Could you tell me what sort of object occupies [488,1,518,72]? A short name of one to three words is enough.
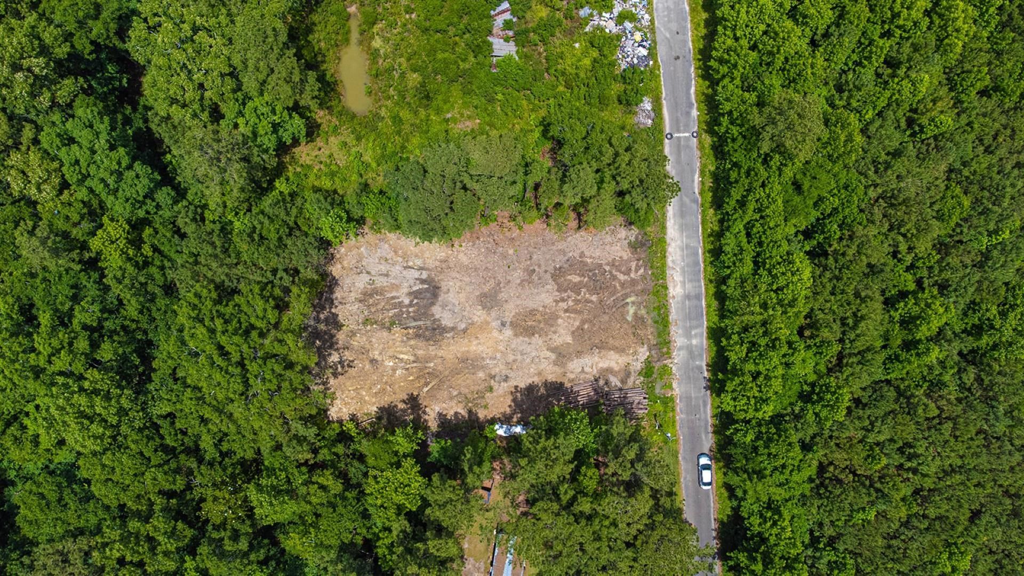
shed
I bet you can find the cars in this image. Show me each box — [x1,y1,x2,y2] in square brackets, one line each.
[698,455,715,490]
